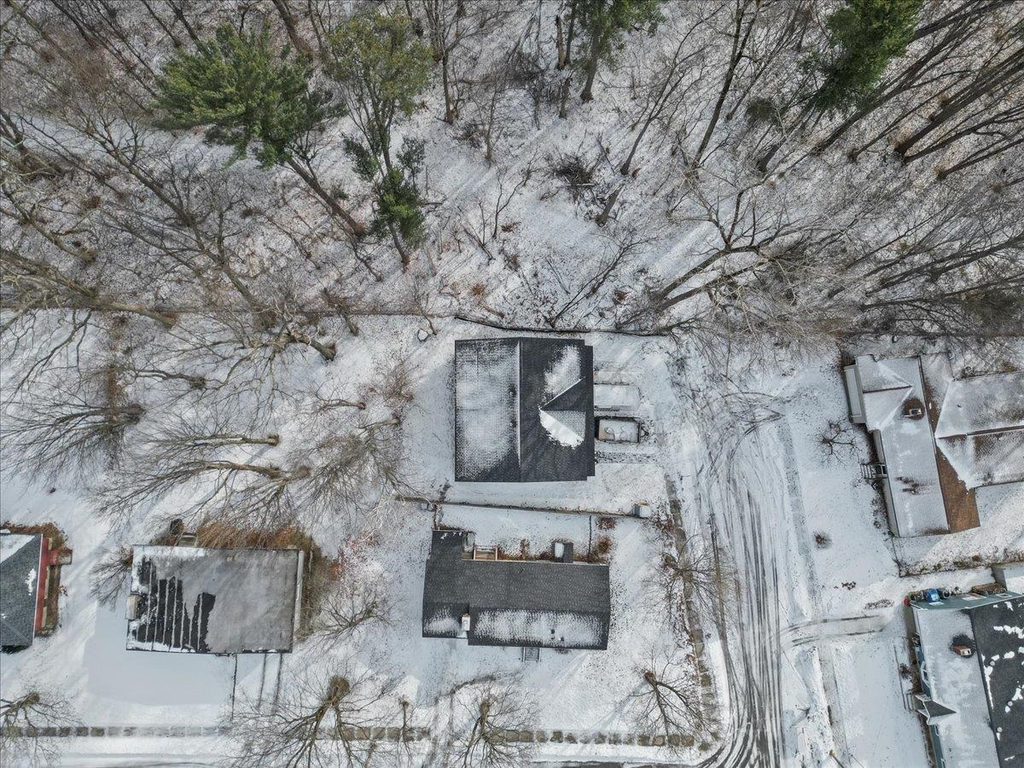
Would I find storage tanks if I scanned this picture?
No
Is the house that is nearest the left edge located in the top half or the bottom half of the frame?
bottom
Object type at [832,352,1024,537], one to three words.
house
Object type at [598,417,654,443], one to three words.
trailer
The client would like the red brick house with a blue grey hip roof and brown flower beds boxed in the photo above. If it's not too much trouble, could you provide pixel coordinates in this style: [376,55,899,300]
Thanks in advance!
[0,531,81,647]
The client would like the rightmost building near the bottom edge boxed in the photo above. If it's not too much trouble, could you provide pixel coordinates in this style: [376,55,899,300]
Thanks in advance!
[903,588,1024,768]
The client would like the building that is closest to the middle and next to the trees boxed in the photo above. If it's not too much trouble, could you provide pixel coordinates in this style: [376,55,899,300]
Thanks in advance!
[455,338,594,482]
